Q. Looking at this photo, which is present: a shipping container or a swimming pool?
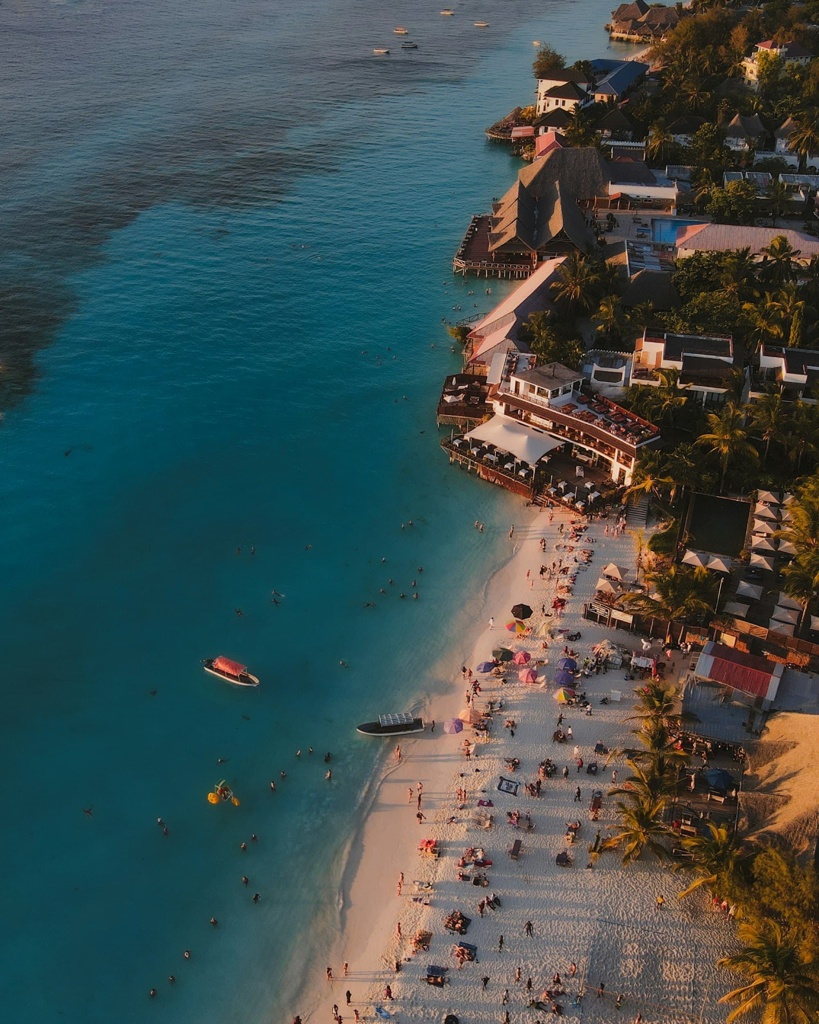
swimming pool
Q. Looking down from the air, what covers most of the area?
water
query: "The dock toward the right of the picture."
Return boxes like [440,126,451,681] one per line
[485,118,536,147]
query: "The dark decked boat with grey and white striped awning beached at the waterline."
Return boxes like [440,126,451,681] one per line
[358,710,423,730]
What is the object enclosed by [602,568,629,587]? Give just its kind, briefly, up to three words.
umbrella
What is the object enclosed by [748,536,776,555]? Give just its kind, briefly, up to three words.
umbrella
